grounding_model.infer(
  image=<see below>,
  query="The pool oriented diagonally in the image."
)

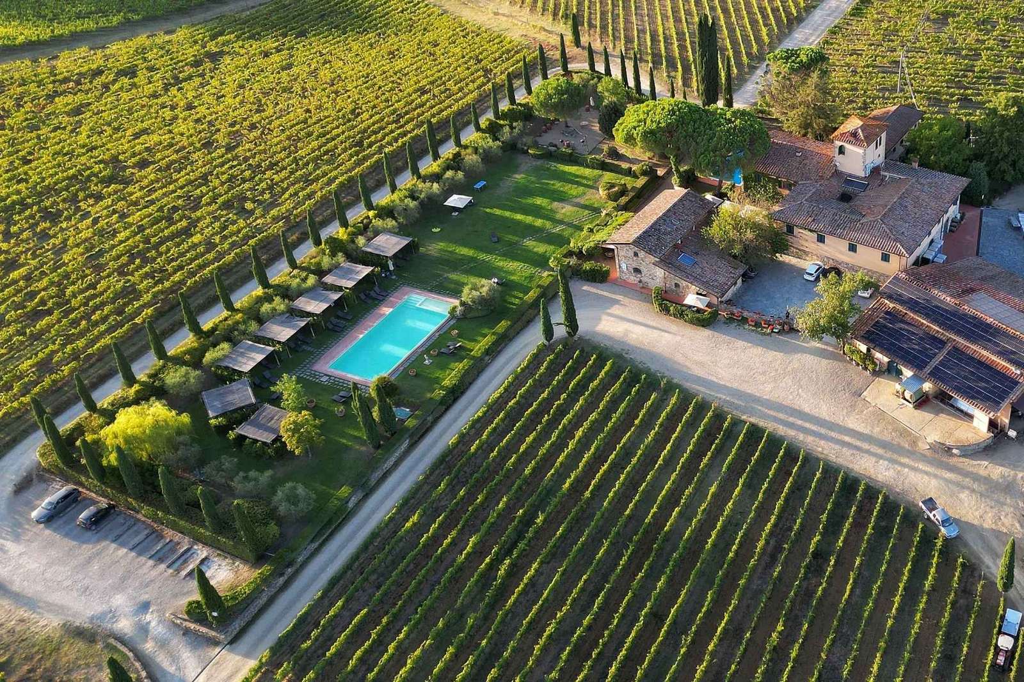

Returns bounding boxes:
[309,286,459,386]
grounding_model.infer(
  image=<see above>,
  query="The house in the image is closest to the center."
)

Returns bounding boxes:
[598,188,748,303]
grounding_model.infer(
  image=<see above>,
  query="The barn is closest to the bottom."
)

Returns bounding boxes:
[853,246,1024,421]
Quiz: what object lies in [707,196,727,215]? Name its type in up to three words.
umbrella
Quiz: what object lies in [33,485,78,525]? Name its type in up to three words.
car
